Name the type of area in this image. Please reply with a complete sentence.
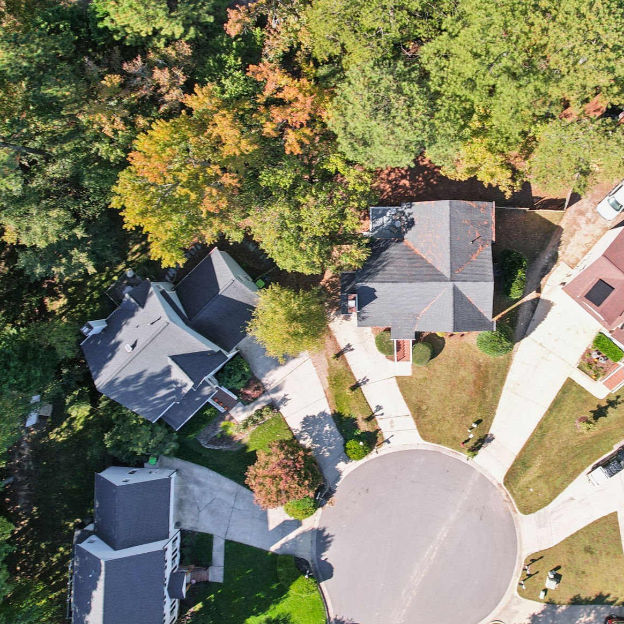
This looks like a residential area.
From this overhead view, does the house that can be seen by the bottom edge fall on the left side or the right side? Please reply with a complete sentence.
You can find the house that can be seen by the bottom edge on the left side of the picture.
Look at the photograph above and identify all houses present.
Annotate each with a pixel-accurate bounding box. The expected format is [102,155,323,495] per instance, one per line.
[554,225,624,395]
[341,199,497,363]
[71,469,209,624]
[80,247,269,432]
